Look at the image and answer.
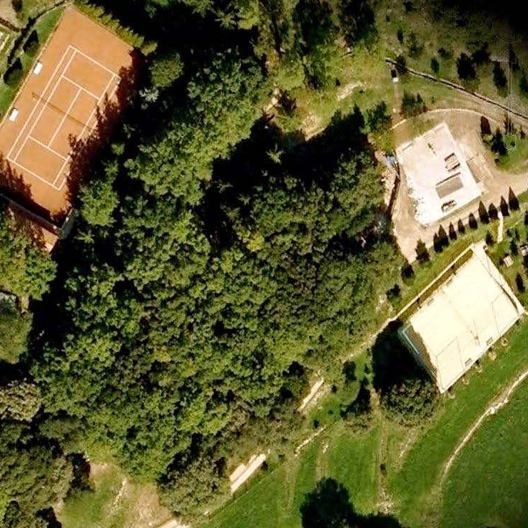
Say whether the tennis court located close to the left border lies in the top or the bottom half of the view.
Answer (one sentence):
The tennis court located close to the left border sits in the top half of the picture.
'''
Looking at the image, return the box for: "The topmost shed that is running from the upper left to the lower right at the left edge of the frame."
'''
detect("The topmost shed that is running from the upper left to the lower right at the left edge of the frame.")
[0,201,59,251]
